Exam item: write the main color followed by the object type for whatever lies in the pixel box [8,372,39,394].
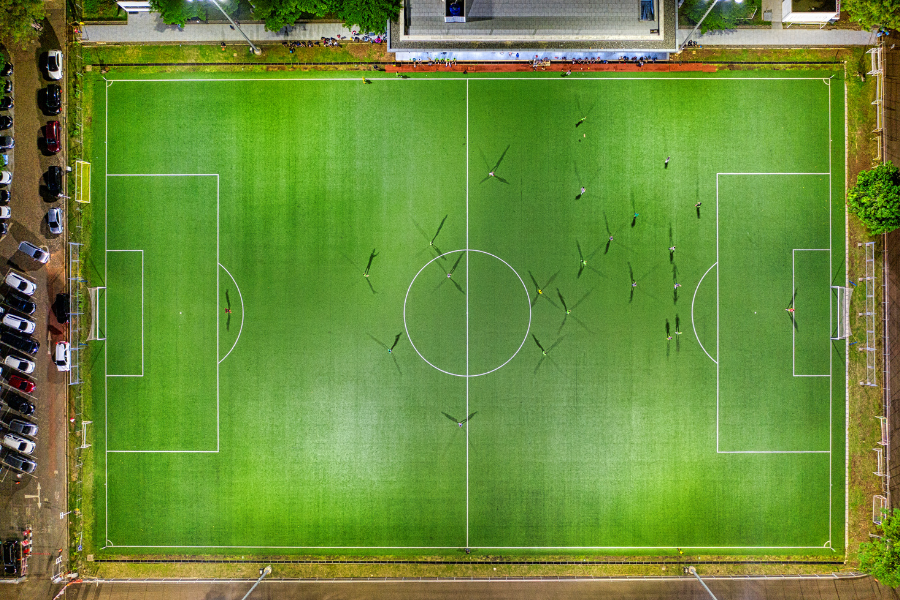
red car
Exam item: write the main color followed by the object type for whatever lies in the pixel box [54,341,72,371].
white car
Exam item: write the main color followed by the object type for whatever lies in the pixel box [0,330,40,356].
black car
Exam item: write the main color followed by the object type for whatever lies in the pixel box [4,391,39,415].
black car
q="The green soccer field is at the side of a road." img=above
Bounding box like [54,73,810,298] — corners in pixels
[92,72,846,555]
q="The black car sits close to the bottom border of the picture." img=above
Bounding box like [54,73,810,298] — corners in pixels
[0,539,20,575]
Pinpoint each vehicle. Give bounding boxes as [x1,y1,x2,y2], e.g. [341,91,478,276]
[0,114,15,131]
[54,341,72,371]
[45,83,63,115]
[0,77,14,94]
[0,380,6,394]
[5,293,39,315]
[0,154,10,167]
[5,272,39,295]
[47,51,64,81]
[45,121,63,153]
[0,95,16,111]
[2,312,38,336]
[4,391,39,415]
[0,539,20,575]
[8,416,40,437]
[4,352,37,375]
[0,170,14,185]
[46,165,64,197]
[18,241,50,264]
[0,205,13,220]
[0,63,15,78]
[0,222,10,235]
[8,372,39,394]
[4,432,39,456]
[5,451,40,474]
[47,208,64,235]
[0,330,40,356]
[53,293,72,324]
[0,134,16,150]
